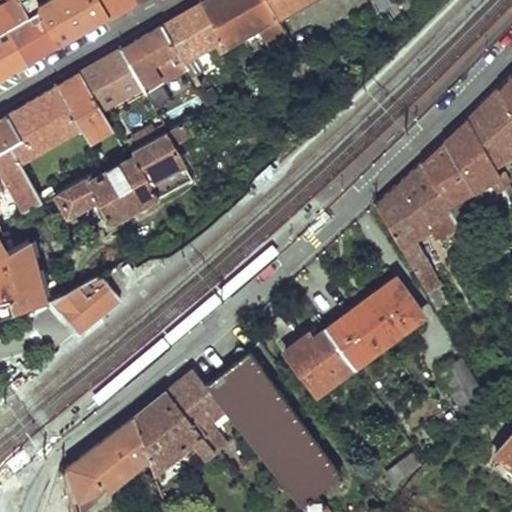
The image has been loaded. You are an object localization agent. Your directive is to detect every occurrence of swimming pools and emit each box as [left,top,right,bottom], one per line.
[166,96,202,120]
[126,112,142,126]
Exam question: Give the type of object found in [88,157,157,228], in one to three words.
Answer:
house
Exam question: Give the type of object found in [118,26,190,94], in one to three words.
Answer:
house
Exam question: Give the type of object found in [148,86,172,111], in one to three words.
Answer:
shed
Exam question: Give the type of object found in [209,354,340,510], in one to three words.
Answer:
building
